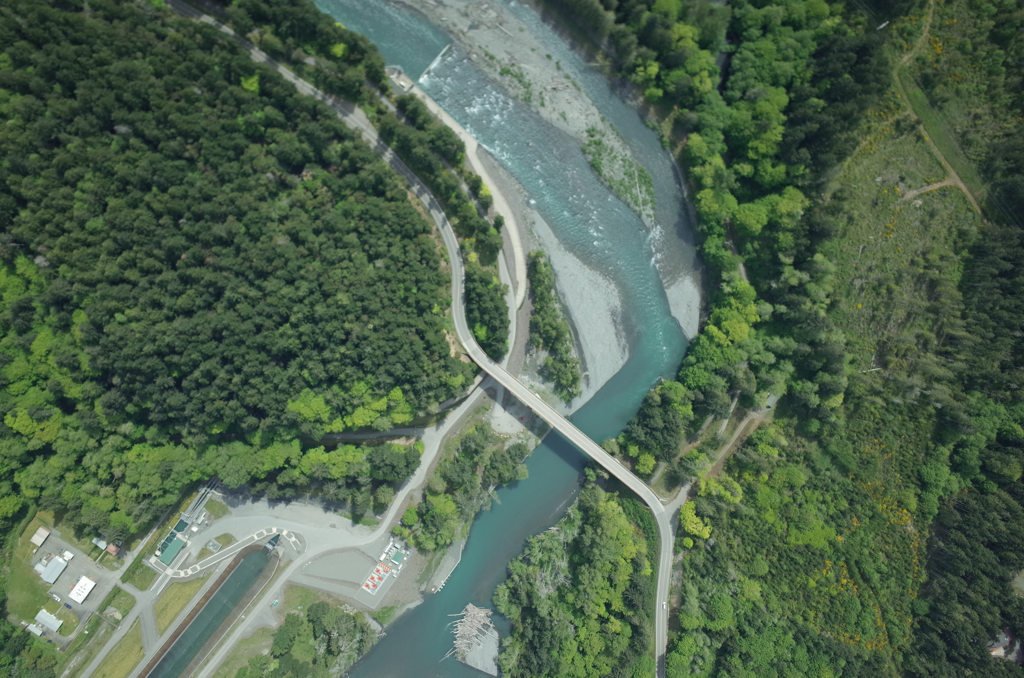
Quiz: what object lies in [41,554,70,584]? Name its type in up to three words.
building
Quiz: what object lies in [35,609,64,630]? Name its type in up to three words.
house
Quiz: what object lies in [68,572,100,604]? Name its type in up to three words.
building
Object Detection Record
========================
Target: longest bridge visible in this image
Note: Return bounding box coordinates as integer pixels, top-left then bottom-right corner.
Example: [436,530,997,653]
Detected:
[459,333,668,518]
